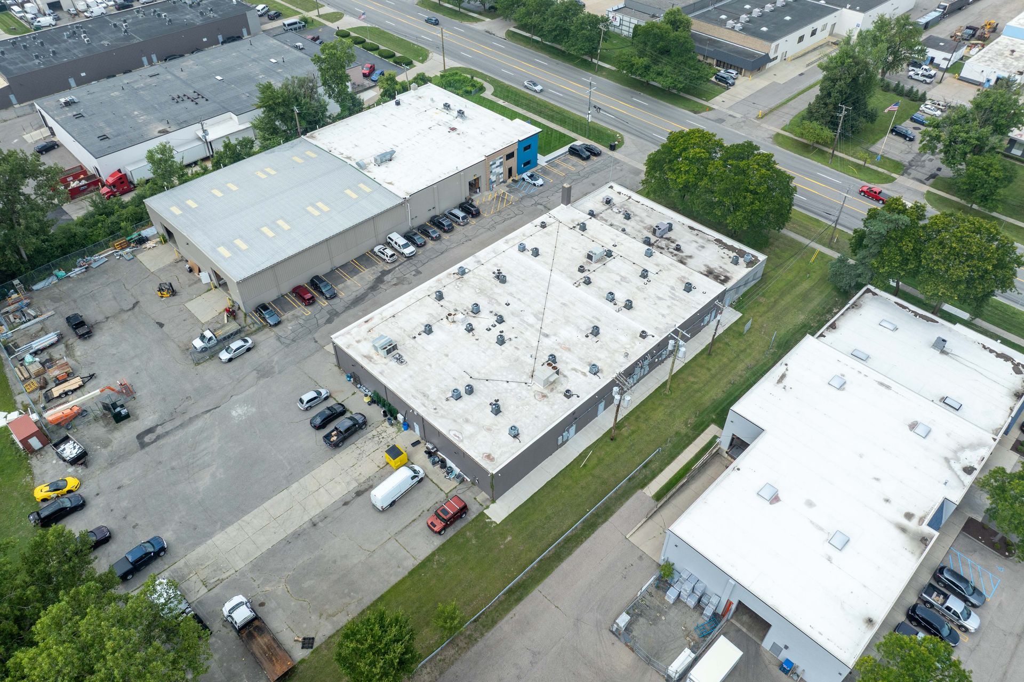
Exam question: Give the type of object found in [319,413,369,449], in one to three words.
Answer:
truck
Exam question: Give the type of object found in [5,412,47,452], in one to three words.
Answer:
shed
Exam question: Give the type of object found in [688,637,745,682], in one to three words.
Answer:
vehicle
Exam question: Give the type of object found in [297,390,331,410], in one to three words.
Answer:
car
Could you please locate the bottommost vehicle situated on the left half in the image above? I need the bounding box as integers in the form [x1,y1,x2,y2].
[231,606,295,682]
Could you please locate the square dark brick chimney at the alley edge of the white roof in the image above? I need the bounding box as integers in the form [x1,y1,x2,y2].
[556,182,576,211]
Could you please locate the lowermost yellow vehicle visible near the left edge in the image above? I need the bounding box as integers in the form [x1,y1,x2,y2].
[33,476,82,502]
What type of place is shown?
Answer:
industrial area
